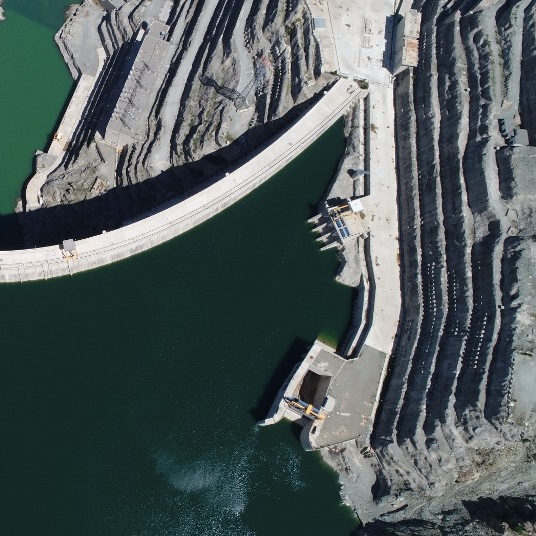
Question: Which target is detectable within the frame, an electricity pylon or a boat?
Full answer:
Visible in the photo is an electricity pylon.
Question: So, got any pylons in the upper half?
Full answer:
Yes, looking in the upper half, one can make out a pylon.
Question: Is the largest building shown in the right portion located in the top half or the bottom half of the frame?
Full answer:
Seen from above, the largest building shown in the right portion lies in the top half of the view.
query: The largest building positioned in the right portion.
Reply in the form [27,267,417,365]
[392,8,422,74]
